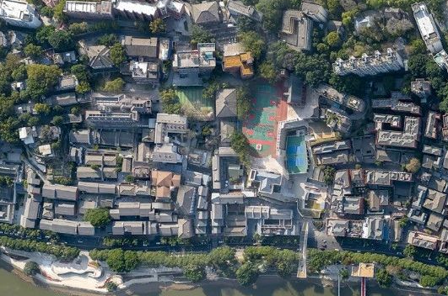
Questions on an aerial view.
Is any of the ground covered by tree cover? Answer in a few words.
Yes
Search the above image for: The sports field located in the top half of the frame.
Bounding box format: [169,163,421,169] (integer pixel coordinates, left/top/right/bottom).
[176,82,215,121]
